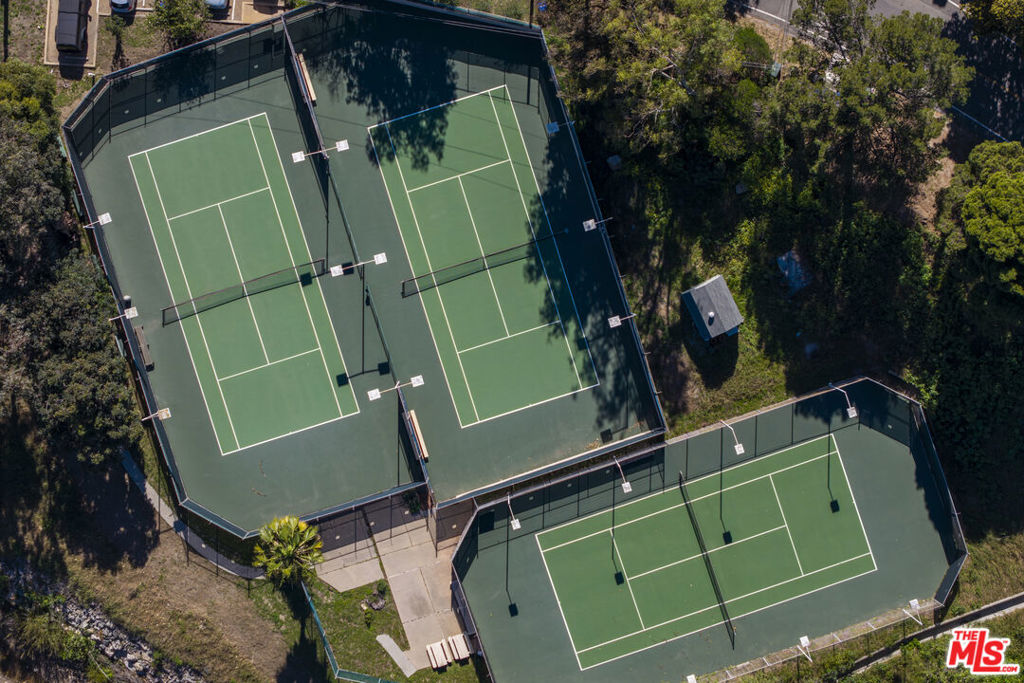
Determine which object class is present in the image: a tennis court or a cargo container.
tennis court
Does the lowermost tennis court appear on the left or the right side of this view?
right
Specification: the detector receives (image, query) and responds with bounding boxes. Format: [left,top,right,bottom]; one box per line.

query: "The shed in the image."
[684,273,743,339]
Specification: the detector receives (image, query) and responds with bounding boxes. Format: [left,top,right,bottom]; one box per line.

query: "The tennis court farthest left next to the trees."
[75,25,424,531]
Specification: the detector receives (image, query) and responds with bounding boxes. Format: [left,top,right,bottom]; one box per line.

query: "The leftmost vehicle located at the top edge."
[60,0,89,54]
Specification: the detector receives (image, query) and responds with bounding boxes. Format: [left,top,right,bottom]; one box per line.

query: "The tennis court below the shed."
[453,376,957,683]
